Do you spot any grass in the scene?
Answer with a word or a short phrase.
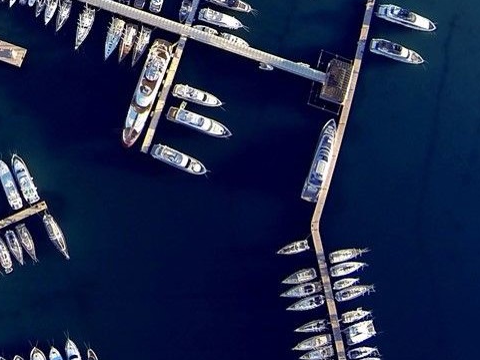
No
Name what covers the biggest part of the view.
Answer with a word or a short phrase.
water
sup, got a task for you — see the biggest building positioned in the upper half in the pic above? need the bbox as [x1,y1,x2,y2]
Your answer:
[317,59,353,106]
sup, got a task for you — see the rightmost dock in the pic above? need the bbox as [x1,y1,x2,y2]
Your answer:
[312,0,375,360]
